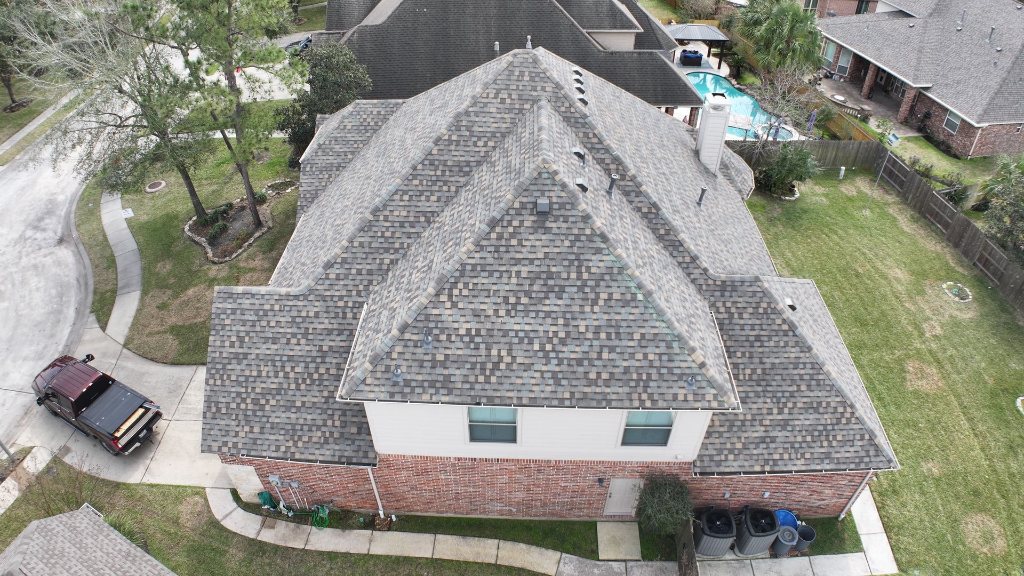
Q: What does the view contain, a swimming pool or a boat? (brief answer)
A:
swimming pool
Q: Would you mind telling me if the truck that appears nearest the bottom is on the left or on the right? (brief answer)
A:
left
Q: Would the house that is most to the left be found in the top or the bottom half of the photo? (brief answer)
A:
bottom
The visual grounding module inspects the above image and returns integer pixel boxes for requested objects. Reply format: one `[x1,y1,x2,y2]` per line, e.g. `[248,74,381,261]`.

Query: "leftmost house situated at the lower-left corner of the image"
[0,501,177,576]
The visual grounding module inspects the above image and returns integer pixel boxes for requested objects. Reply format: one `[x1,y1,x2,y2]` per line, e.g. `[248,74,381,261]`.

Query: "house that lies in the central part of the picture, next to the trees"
[198,43,910,537]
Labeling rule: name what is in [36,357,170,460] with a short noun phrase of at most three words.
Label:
truck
